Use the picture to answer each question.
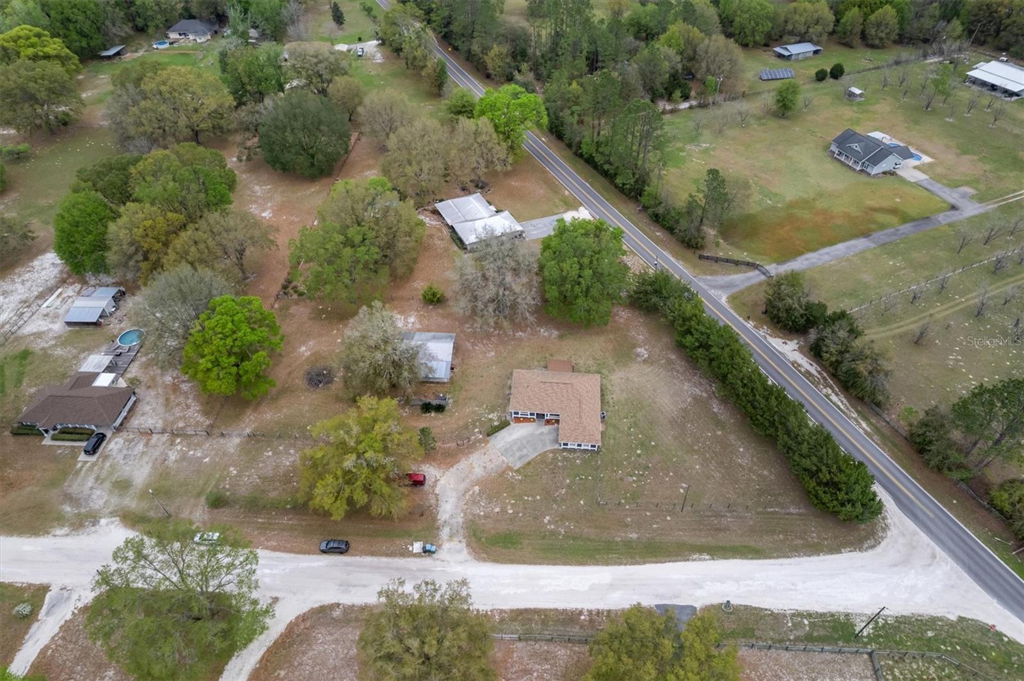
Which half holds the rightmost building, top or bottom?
top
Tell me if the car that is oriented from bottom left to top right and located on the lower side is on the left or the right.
left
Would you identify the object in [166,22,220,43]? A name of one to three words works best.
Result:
house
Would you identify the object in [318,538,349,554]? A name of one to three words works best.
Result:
car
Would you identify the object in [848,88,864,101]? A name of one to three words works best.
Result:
gazebo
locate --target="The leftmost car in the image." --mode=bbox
[80,433,107,456]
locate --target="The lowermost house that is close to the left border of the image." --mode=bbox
[18,367,140,436]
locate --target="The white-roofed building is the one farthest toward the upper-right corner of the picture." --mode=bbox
[963,58,1024,103]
